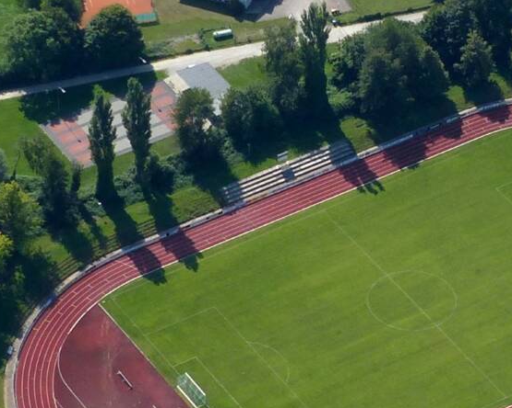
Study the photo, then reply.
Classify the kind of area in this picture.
sports ground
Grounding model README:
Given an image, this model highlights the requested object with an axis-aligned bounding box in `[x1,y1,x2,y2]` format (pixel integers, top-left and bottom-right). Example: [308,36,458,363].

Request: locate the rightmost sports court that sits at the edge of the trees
[131,85,184,133]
